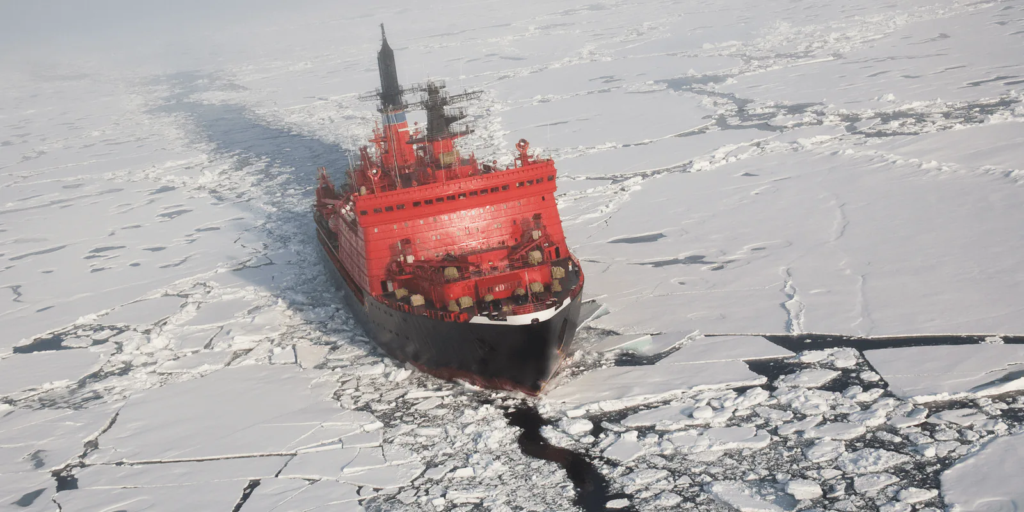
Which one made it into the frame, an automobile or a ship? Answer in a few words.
ship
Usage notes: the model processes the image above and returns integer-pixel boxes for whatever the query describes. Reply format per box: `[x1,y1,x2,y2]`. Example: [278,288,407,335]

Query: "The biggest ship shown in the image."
[312,24,586,399]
